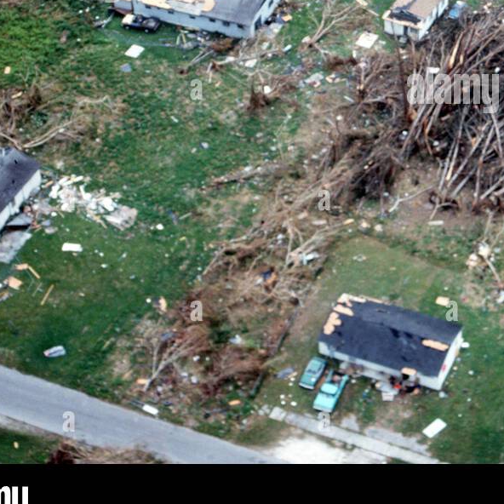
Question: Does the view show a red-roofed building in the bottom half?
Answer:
No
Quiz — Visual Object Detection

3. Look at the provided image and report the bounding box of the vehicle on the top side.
[122,14,161,32]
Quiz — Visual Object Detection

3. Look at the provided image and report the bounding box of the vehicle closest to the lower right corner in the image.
[316,363,355,413]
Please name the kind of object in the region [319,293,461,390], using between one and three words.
house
